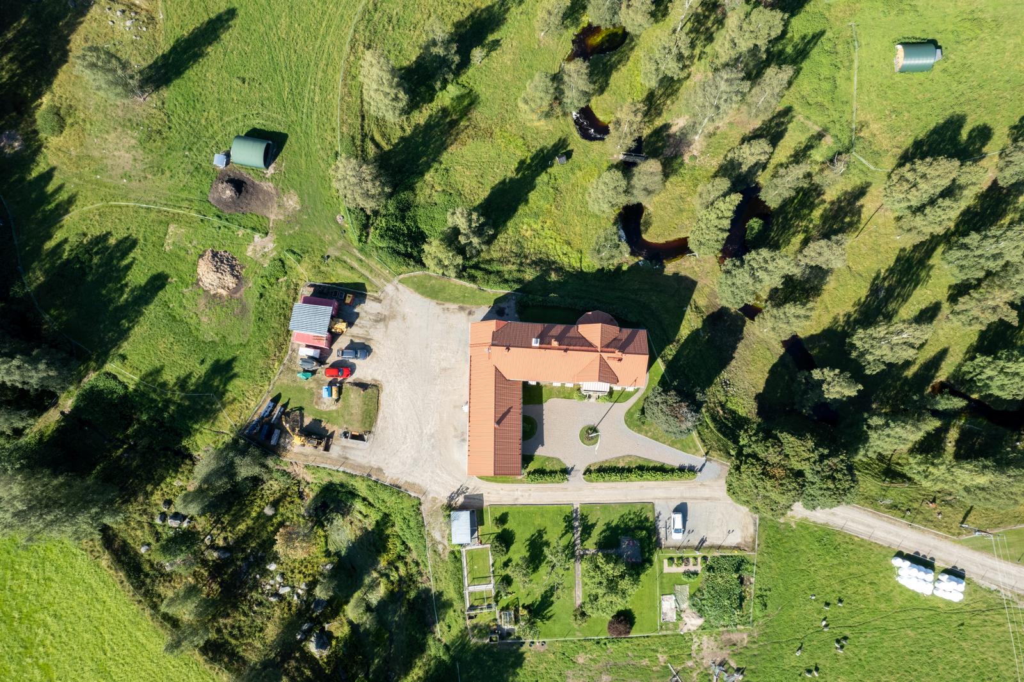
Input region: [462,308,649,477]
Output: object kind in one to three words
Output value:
house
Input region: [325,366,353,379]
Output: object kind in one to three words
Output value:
vehicle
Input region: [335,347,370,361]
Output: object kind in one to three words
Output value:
car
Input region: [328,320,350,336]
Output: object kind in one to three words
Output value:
work vehicle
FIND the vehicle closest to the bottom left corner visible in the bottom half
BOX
[287,415,337,453]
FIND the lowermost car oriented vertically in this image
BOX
[670,510,685,541]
